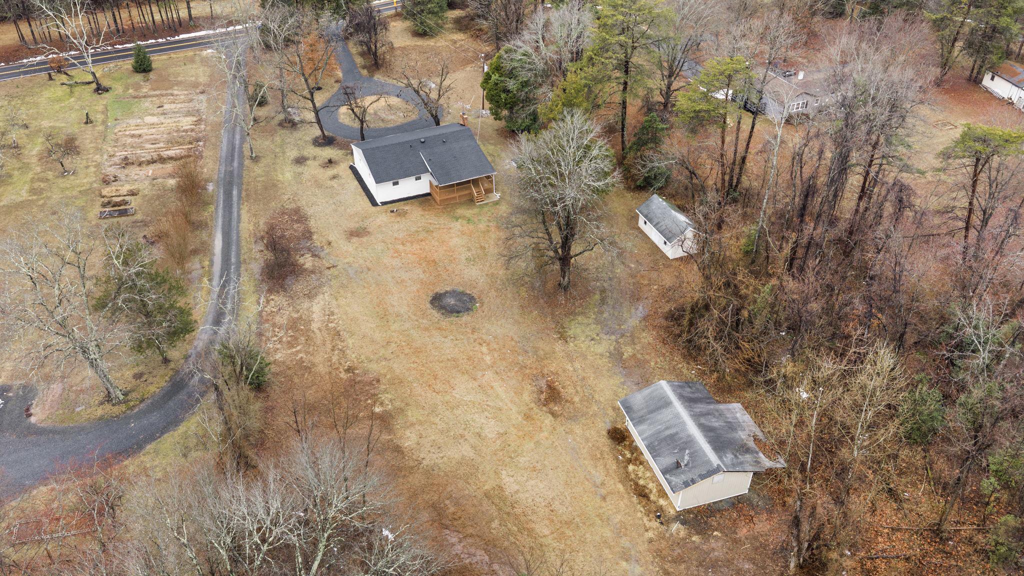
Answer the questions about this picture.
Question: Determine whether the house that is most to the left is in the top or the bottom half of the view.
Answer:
top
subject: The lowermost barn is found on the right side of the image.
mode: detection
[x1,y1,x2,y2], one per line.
[617,380,789,513]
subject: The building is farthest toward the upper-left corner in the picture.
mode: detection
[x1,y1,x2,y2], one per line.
[348,113,503,206]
